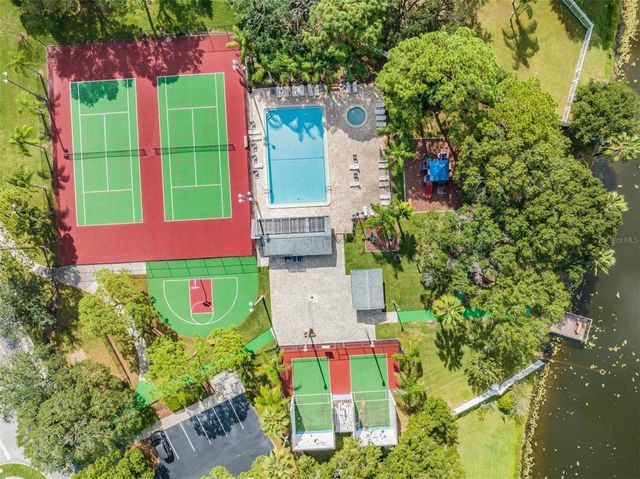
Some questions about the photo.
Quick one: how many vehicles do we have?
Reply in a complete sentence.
I count just 1 vehicle.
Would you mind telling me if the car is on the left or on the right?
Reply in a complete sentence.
It is on the left.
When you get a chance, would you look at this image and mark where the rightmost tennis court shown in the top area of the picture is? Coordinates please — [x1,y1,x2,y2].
[150,34,254,262]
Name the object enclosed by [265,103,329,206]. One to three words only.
swimming pool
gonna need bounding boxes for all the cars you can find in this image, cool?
[151,434,171,465]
